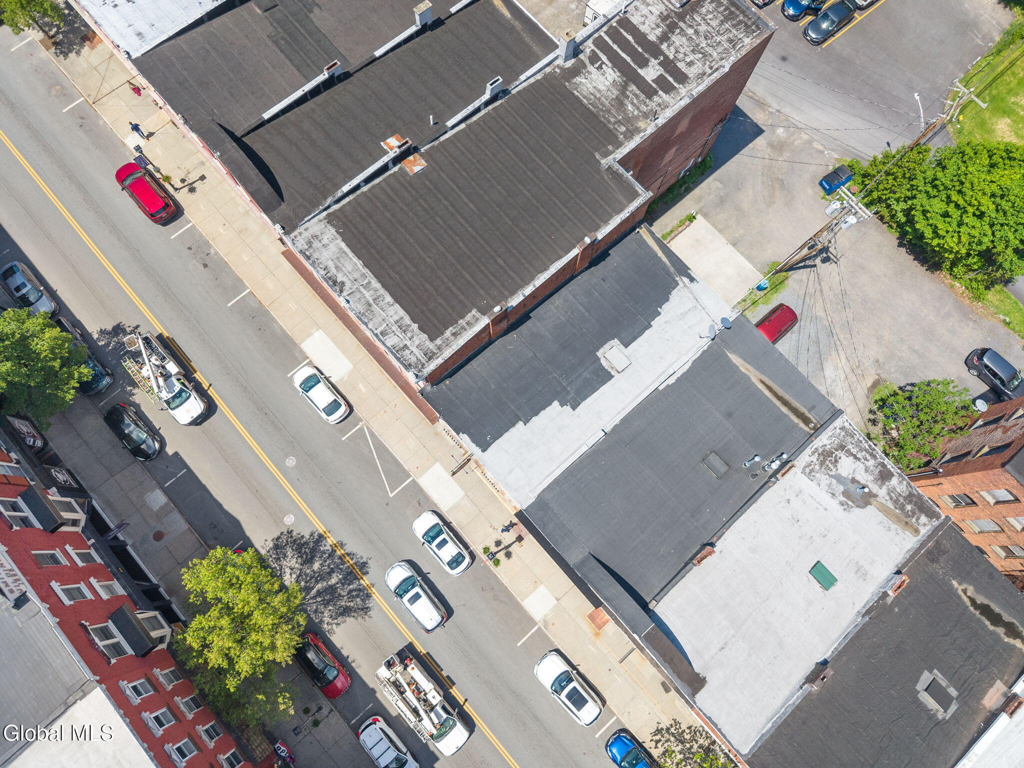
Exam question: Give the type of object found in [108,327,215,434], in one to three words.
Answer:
truck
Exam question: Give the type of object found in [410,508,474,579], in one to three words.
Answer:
car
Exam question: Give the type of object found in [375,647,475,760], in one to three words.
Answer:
truck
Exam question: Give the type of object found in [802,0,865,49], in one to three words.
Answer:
car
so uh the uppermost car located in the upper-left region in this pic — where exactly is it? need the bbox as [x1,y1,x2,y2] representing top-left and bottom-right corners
[114,161,178,228]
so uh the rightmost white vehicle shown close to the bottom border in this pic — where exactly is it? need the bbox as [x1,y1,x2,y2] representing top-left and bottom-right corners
[531,646,607,732]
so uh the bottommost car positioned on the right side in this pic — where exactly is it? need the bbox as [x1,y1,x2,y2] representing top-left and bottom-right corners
[602,723,662,768]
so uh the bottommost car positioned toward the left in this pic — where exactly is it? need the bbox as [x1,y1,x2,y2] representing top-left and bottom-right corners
[358,715,429,768]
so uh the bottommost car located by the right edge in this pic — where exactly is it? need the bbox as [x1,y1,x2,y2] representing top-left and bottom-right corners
[963,348,1024,408]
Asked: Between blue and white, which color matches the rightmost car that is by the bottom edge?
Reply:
blue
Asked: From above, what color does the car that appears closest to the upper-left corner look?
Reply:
red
